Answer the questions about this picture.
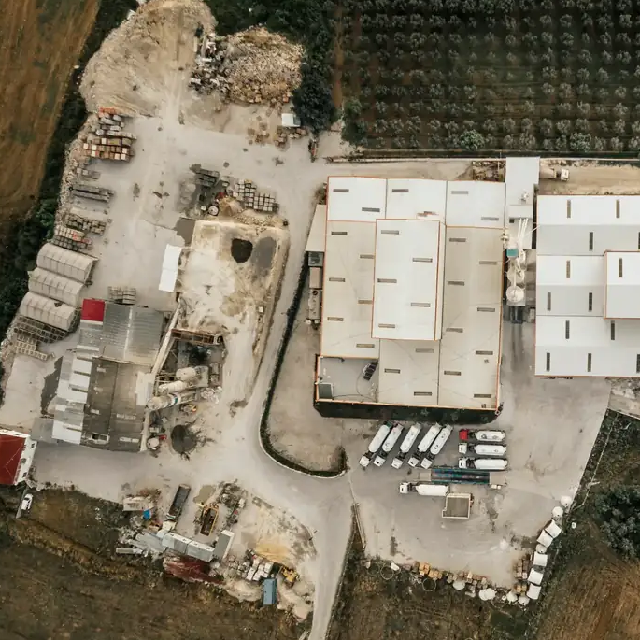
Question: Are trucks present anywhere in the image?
Yes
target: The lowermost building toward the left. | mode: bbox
[121,496,155,512]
